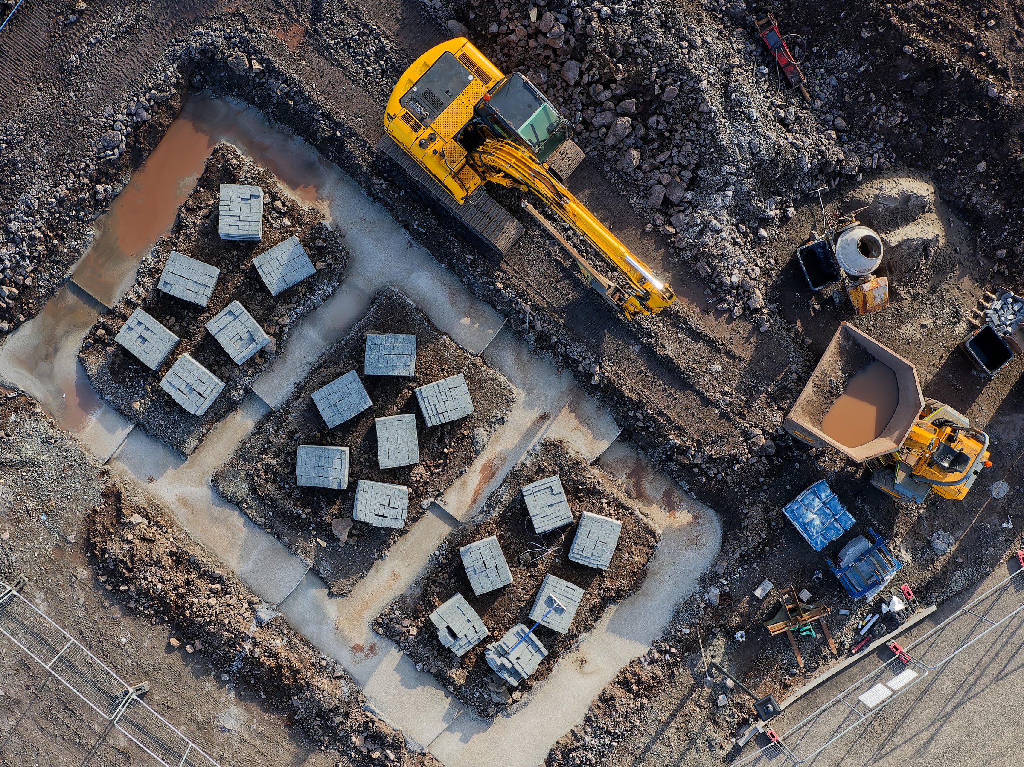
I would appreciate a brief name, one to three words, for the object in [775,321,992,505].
truck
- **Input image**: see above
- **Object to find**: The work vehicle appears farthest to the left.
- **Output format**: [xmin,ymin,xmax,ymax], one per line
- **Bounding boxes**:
[367,38,677,321]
